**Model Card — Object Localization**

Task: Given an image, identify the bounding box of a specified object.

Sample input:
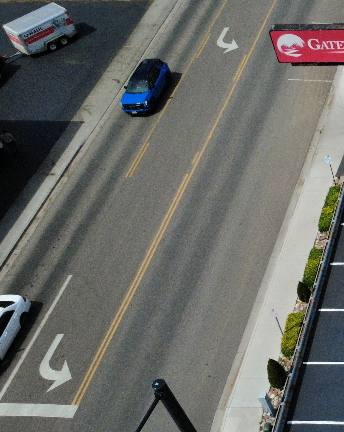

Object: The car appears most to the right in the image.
[117,61,169,113]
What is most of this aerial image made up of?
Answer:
paved ground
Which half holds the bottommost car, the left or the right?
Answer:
left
